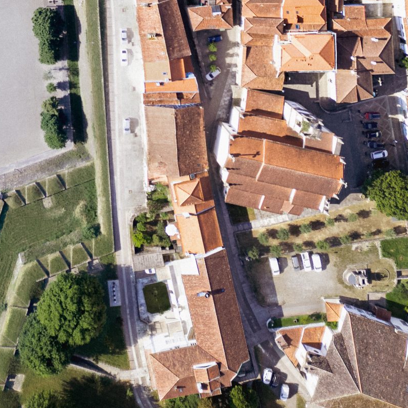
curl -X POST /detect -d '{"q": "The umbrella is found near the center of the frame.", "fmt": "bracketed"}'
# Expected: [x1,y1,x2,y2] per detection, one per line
[164,223,177,235]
